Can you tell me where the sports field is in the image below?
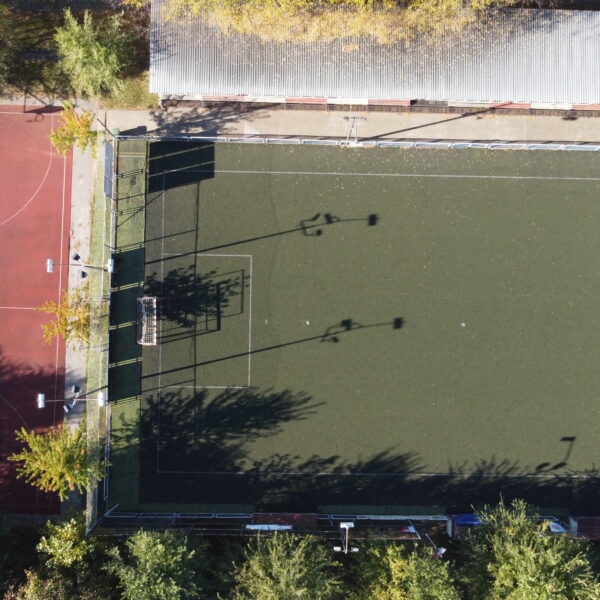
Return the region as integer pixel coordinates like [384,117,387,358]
[103,141,600,521]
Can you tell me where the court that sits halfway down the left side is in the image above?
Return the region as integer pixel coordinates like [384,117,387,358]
[0,105,74,513]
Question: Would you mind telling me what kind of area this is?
sports ground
